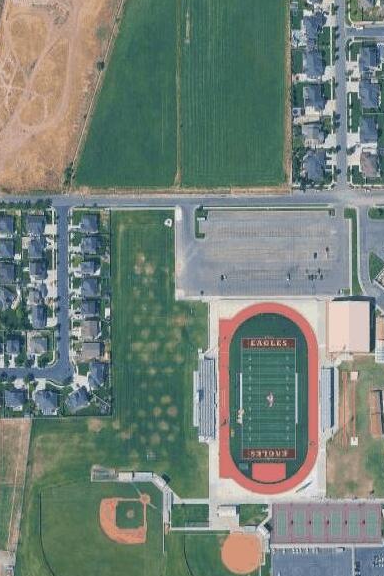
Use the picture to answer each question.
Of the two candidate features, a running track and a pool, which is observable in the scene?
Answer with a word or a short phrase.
running track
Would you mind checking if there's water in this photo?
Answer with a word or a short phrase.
No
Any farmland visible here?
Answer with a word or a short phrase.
Yes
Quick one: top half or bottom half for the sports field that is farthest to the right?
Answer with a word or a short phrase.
bottom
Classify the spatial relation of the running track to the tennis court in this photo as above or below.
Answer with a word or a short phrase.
above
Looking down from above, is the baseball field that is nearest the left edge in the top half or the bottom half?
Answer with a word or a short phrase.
bottom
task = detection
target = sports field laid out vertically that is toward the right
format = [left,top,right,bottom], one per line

[230,311,308,485]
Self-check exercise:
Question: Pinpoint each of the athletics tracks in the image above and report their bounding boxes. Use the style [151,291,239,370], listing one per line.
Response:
[219,303,318,495]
